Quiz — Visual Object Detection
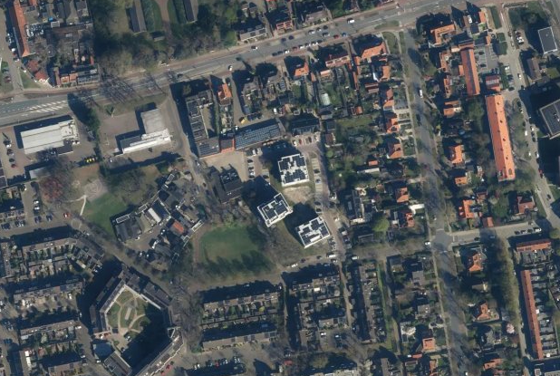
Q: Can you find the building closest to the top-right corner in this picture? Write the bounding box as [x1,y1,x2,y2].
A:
[537,27,557,57]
